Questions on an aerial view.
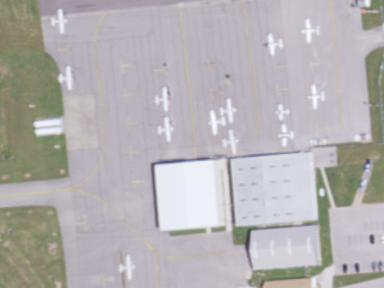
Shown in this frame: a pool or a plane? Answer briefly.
plane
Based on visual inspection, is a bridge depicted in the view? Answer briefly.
No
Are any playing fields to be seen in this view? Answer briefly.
No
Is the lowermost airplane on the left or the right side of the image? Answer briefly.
left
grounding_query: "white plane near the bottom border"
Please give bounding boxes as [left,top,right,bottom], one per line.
[117,254,137,280]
